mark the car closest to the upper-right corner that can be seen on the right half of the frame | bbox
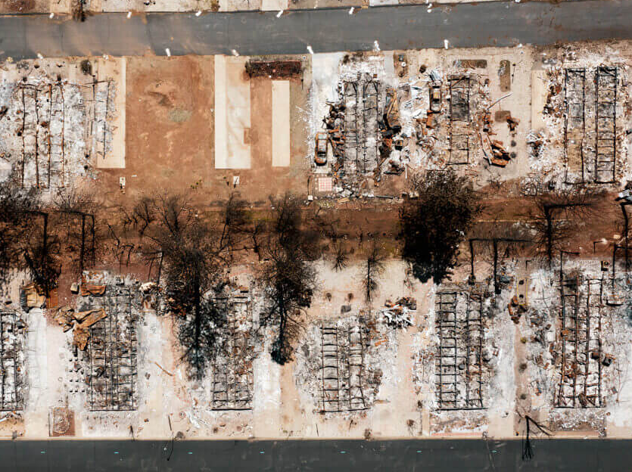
[429,83,444,113]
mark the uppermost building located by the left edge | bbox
[11,83,67,187]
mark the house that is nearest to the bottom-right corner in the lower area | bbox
[556,279,610,409]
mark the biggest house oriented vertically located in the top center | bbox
[341,66,382,187]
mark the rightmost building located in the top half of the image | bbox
[554,67,619,184]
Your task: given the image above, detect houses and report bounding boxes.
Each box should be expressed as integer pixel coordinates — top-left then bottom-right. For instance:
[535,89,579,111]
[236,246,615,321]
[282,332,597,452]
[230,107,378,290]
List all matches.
[434,292,485,410]
[208,299,255,410]
[313,319,367,413]
[0,311,27,419]
[441,77,473,173]
[554,67,619,184]
[556,279,610,409]
[341,66,382,187]
[11,83,67,187]
[88,306,141,413]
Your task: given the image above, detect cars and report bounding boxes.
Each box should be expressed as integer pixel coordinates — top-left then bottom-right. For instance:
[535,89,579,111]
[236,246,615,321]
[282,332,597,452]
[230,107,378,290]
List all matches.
[315,132,329,165]
[429,83,444,113]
